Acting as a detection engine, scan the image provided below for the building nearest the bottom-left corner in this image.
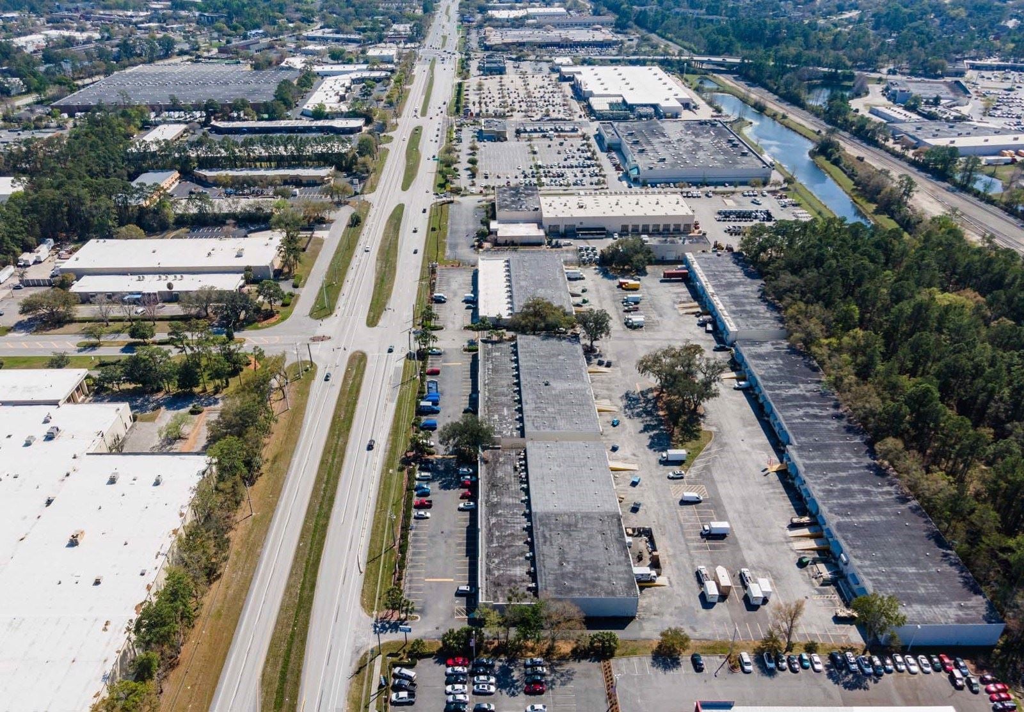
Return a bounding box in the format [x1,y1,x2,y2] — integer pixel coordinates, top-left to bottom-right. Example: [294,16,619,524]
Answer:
[0,368,215,712]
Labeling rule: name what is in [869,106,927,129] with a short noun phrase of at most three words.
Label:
shed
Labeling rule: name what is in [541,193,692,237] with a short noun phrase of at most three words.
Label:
building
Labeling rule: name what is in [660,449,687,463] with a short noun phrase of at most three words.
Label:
vehicle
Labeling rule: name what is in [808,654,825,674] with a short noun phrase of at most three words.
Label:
car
